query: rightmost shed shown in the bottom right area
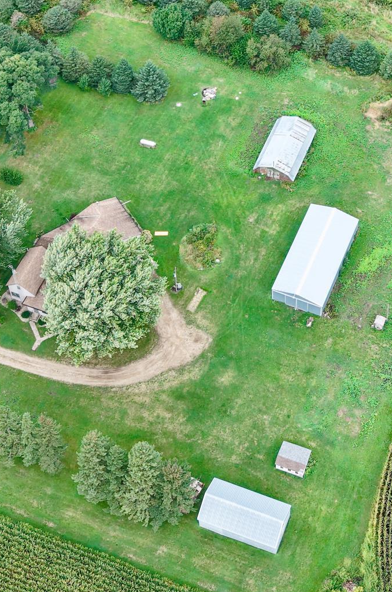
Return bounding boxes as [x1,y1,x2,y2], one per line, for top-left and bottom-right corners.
[275,440,312,478]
